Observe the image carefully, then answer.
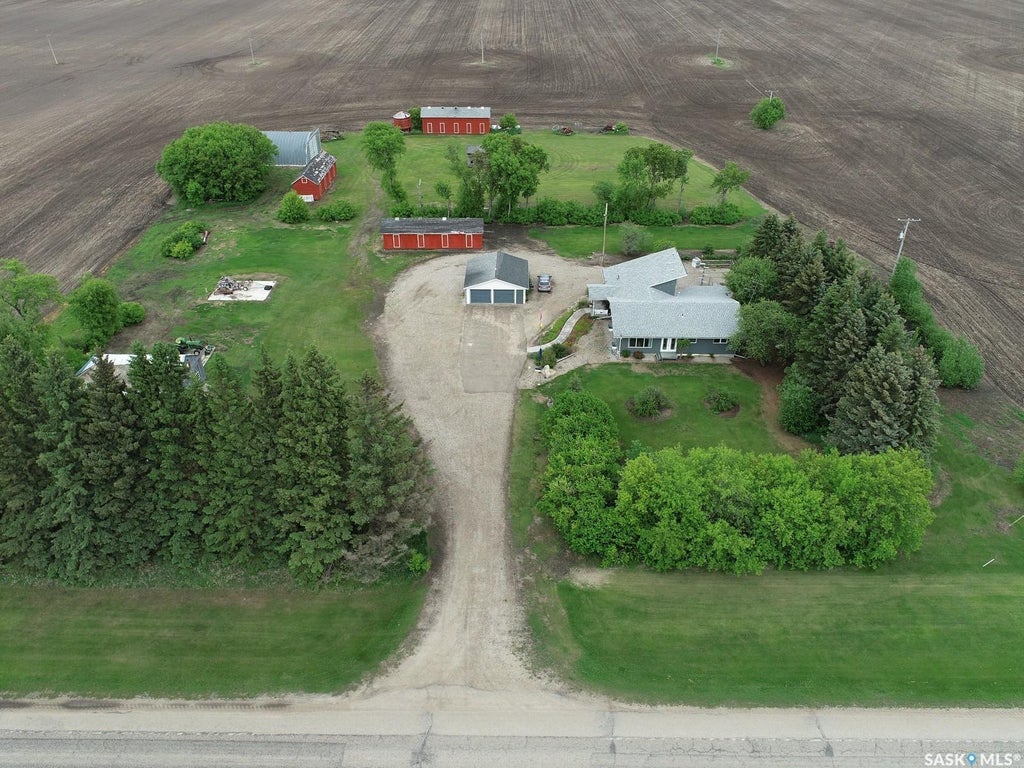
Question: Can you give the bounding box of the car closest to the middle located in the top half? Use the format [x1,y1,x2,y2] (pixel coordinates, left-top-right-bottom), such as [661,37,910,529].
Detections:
[536,273,551,288]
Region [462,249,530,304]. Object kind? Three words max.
building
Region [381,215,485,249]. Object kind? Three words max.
shed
